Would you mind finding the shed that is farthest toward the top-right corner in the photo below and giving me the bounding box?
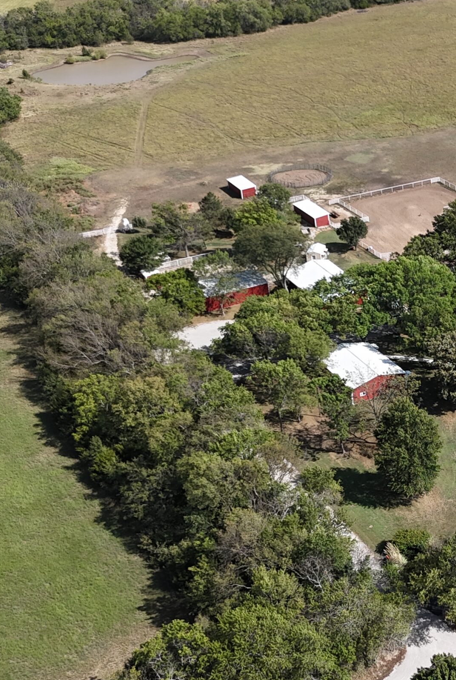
[296,196,330,227]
